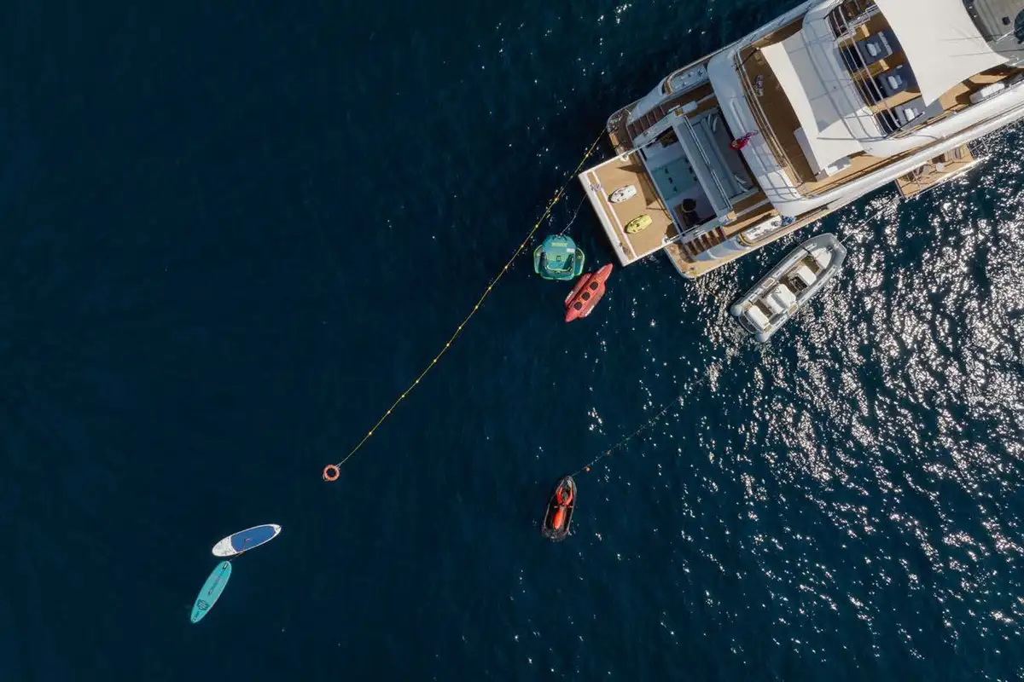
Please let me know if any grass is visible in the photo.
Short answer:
No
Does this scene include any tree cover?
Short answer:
No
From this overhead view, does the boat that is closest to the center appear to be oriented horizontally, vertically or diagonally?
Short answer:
diagonally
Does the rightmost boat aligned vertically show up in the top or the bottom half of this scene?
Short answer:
bottom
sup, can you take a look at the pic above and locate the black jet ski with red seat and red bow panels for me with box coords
[543,475,576,540]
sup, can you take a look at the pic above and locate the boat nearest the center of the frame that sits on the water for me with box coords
[563,264,614,322]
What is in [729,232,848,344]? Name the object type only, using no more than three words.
boat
